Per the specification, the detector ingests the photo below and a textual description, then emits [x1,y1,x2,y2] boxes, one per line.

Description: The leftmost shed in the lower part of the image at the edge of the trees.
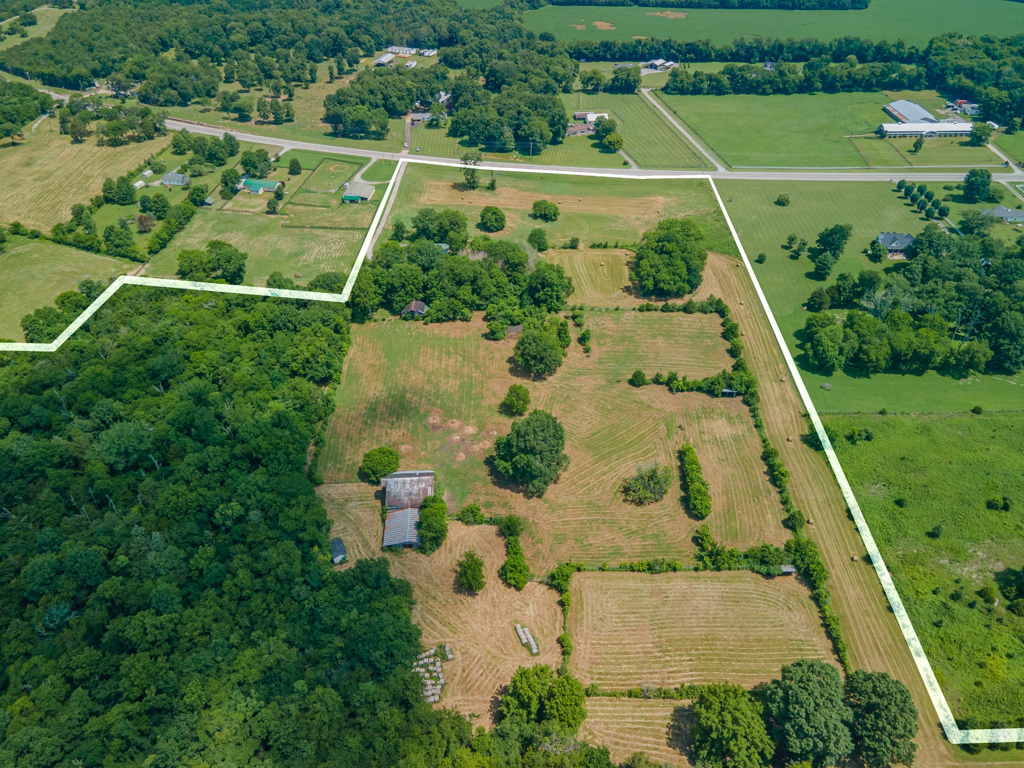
[330,534,346,563]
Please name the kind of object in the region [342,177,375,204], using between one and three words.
barn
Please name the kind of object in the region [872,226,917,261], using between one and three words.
house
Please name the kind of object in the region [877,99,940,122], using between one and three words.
barn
